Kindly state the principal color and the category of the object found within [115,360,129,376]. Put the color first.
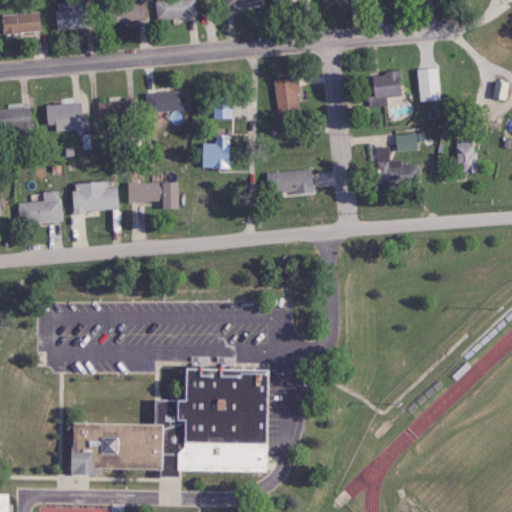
white vehicle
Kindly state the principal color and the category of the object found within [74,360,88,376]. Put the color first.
white vehicle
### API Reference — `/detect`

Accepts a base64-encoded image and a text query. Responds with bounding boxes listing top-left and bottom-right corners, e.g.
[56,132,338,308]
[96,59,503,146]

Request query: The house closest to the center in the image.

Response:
[268,169,316,199]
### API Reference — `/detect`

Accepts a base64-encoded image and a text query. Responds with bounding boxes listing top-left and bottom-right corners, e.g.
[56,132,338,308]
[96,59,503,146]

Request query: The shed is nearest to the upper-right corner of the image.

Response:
[494,78,510,102]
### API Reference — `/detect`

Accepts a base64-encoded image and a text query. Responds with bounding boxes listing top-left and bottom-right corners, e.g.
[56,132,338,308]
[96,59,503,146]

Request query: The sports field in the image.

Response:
[382,352,512,512]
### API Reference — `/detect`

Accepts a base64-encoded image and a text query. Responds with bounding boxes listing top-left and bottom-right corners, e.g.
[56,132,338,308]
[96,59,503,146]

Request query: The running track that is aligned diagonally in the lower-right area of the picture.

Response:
[345,330,512,512]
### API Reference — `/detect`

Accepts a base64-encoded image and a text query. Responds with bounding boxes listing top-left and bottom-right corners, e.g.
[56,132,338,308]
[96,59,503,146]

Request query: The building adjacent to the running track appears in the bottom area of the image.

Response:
[72,366,270,476]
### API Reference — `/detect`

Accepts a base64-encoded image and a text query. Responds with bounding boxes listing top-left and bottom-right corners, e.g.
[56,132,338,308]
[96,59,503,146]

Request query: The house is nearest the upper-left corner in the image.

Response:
[2,13,42,38]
